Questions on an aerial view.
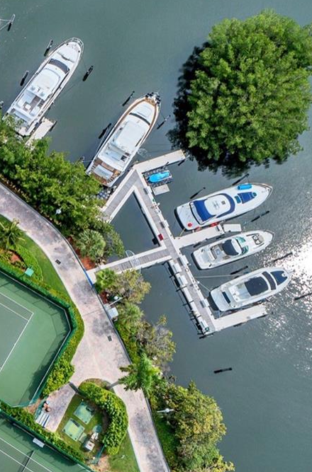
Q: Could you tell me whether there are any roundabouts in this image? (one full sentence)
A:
No, no roundabout is visible in the view.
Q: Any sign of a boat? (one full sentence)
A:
Yes, I can see a boat in this picture.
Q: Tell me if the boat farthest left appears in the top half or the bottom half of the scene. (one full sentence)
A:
You can find the boat farthest left in the top half.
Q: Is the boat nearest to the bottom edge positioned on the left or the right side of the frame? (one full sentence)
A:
The boat nearest to the bottom edge sits on the right side.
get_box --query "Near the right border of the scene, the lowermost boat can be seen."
[204,266,297,314]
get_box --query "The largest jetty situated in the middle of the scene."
[100,150,219,336]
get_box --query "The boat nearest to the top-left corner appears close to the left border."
[2,33,85,145]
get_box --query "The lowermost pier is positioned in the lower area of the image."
[202,306,273,337]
